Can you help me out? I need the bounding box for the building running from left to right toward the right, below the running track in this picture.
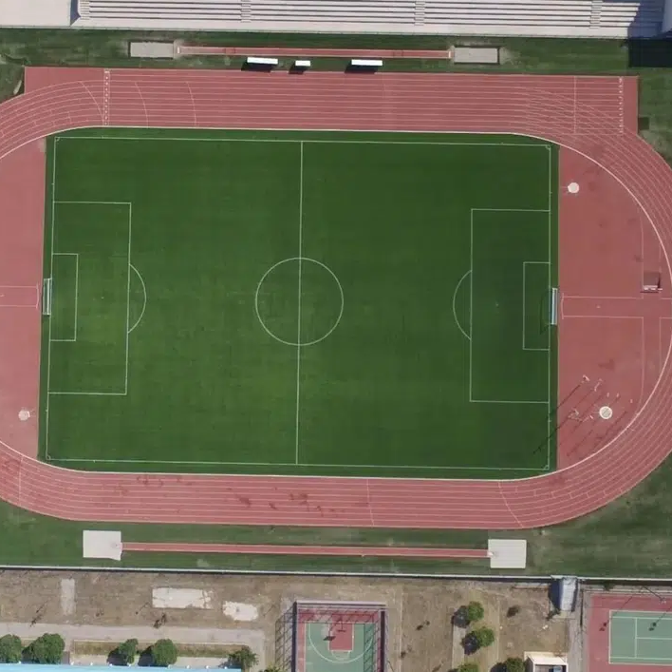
[528,655,568,672]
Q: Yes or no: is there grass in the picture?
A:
Yes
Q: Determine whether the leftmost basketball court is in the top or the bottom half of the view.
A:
bottom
